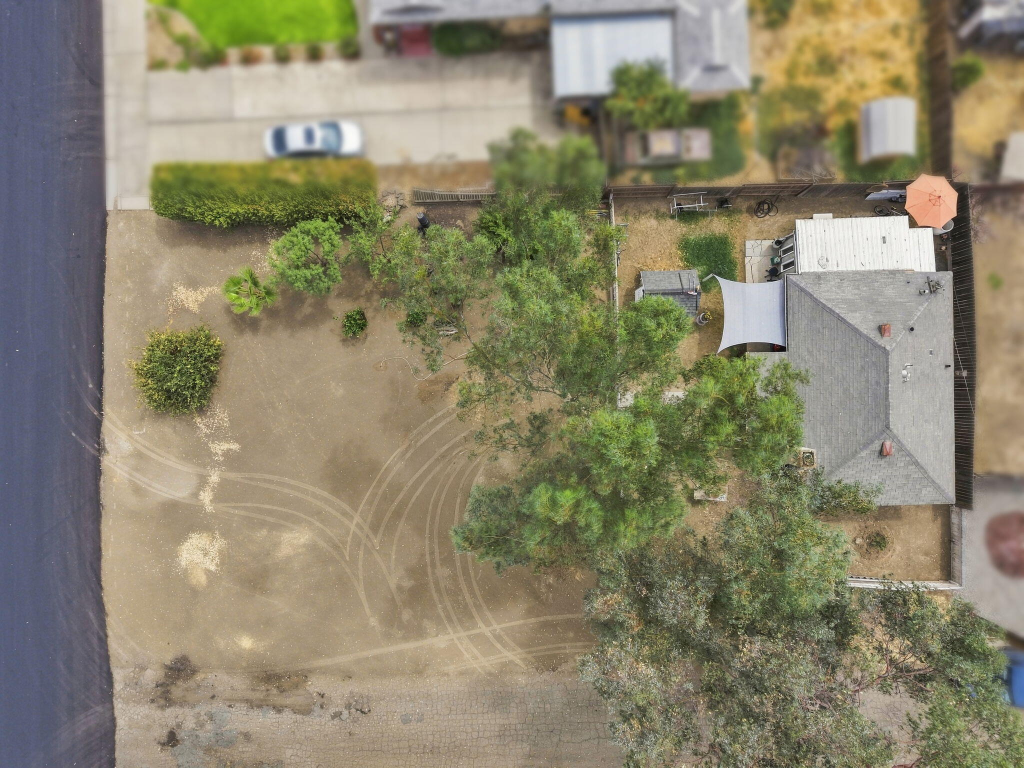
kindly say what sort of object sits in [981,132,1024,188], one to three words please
shed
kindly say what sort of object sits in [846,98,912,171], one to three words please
shed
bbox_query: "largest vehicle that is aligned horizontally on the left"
[260,111,360,159]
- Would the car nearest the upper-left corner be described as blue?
No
